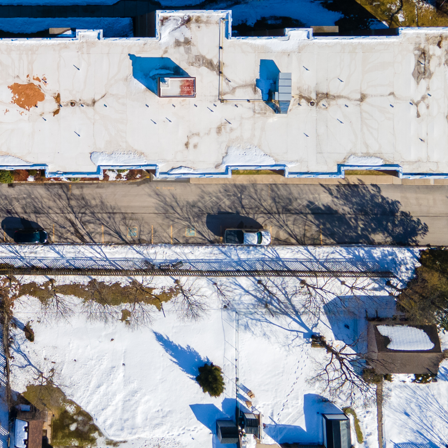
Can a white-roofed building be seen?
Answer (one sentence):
Yes, there's a white-roofed building down there.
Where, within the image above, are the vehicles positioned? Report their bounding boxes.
[224,228,269,246]
[14,228,47,245]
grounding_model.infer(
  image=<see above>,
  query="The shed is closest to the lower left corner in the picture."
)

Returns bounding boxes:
[14,413,43,448]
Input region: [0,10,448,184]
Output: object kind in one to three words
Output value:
building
